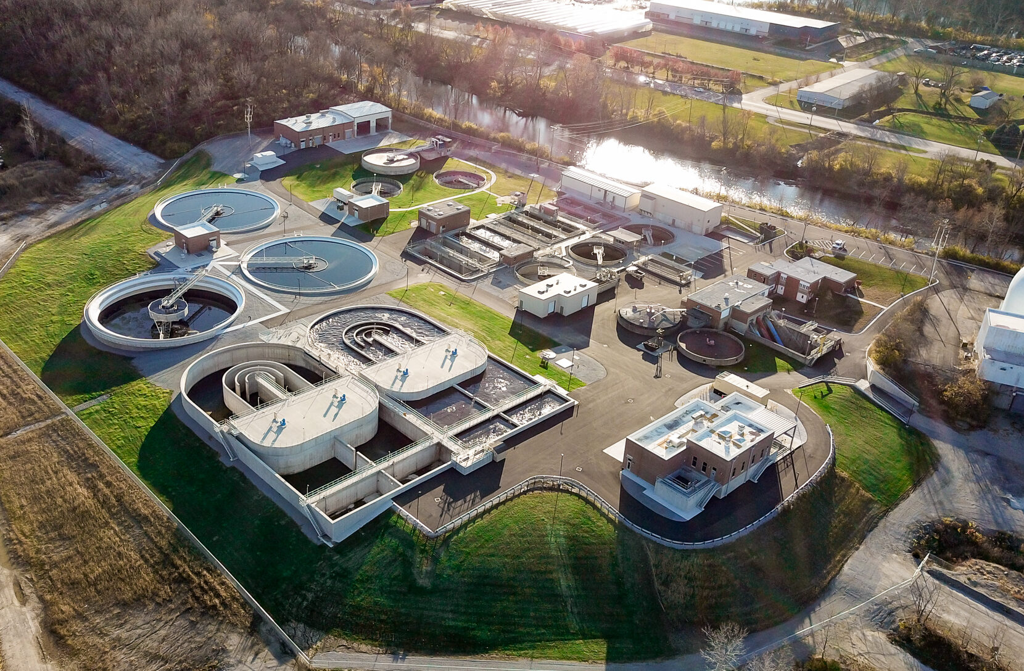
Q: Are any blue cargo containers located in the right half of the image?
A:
No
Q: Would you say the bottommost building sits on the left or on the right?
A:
right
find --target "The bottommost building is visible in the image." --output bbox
[622,393,797,509]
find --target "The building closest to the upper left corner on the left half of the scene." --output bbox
[173,220,221,253]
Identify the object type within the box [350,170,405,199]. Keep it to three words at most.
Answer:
storage tank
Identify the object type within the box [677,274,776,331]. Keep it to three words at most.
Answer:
building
